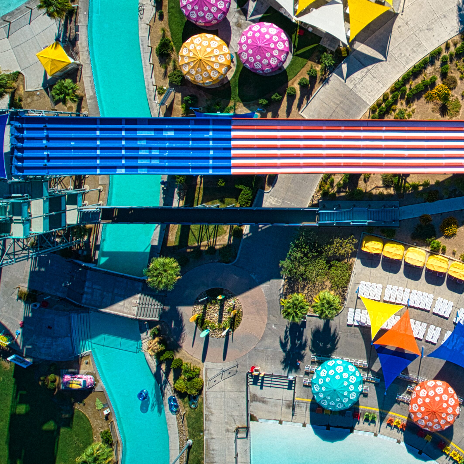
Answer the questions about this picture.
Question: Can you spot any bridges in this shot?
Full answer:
Yes, I can see a bridge in this picture.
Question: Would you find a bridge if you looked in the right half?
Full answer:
No, I can find no bridge in the right half.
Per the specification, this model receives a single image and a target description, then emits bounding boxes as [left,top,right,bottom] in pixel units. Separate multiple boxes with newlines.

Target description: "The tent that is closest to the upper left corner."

[36,42,80,78]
